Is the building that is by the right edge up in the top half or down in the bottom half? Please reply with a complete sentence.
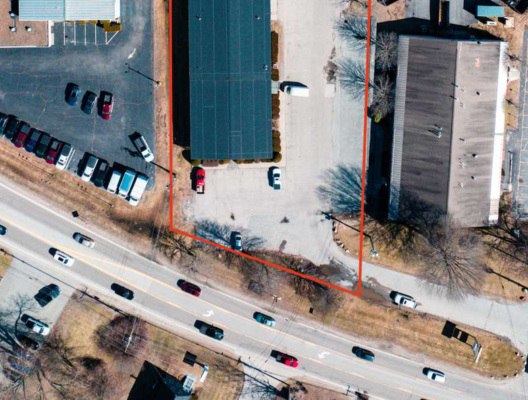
It is in the top half that the building that is by the right edge appears.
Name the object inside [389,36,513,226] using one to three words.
building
